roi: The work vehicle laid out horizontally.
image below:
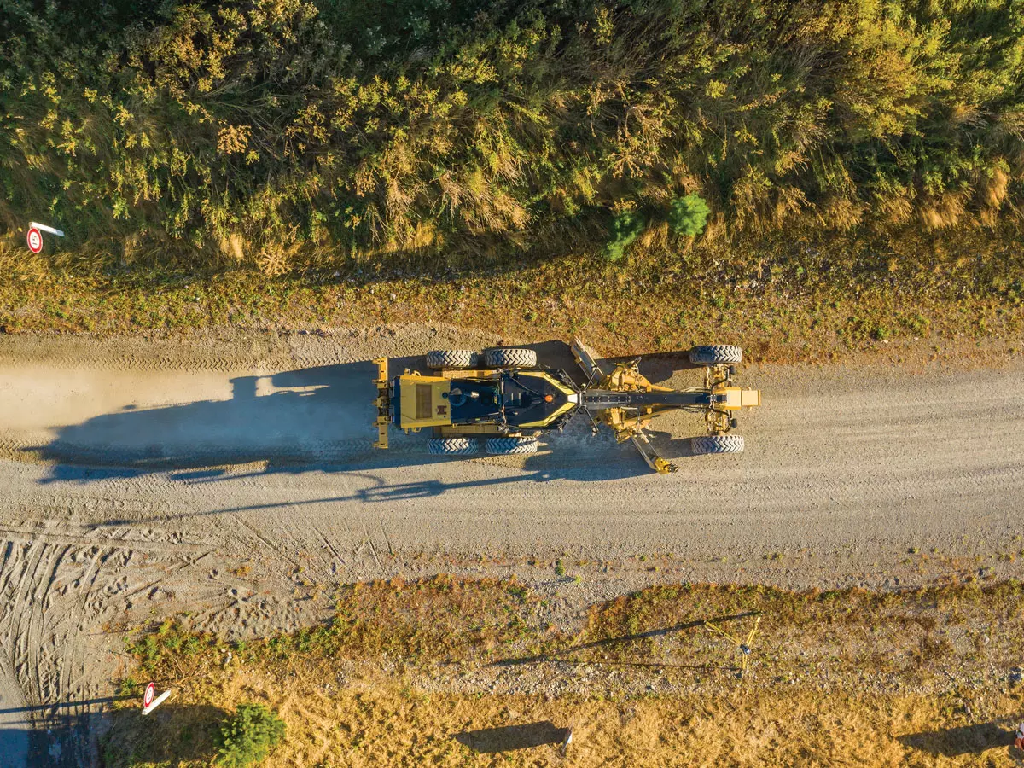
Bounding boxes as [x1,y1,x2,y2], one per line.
[372,335,760,482]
